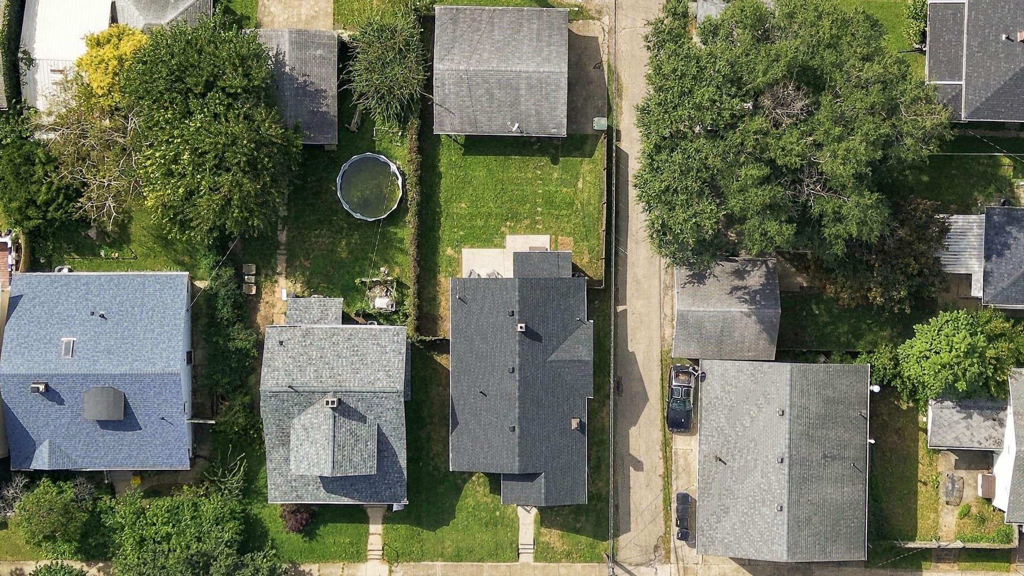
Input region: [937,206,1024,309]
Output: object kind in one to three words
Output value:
house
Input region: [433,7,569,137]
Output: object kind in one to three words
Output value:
building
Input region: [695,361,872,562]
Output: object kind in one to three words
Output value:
house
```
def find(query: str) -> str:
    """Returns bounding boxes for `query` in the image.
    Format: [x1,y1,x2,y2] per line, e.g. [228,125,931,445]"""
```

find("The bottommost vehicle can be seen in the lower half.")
[670,361,698,433]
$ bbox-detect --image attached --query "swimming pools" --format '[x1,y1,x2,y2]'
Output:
[337,154,402,219]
